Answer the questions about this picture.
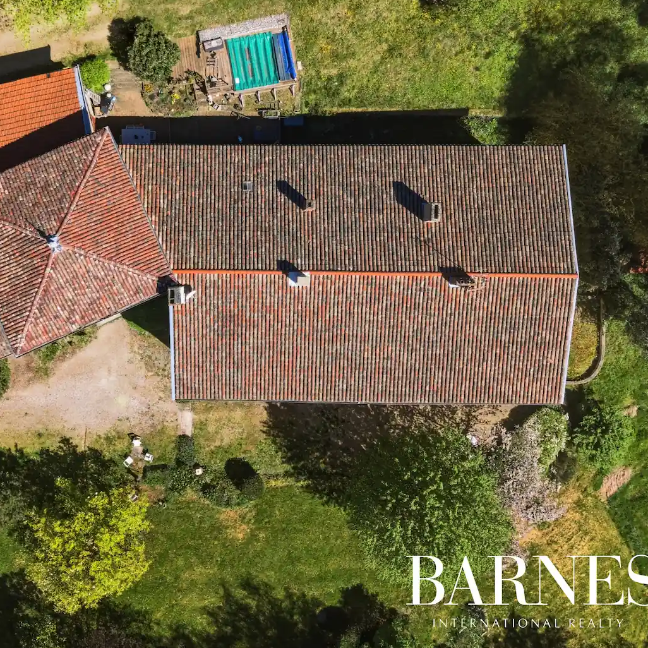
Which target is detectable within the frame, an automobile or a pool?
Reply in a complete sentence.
The image shows a pool.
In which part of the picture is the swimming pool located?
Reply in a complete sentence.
You can find the swimming pool in the top area of the picture.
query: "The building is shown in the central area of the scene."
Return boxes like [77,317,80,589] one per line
[116,143,580,405]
